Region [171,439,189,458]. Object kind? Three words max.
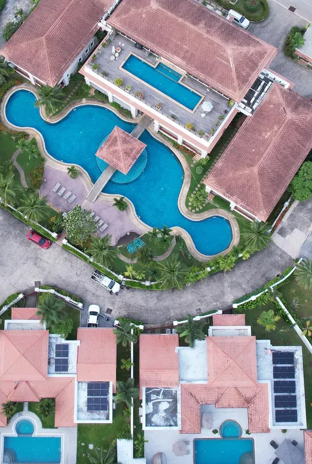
umbrella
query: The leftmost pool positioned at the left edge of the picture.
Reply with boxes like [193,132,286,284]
[0,414,65,464]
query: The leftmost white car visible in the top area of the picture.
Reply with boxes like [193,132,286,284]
[224,7,250,28]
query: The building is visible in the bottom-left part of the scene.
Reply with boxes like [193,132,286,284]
[0,307,117,427]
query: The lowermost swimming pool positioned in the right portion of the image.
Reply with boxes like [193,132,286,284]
[190,417,258,464]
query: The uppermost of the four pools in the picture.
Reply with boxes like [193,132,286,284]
[119,51,205,115]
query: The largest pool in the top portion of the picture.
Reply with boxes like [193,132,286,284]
[2,81,242,264]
